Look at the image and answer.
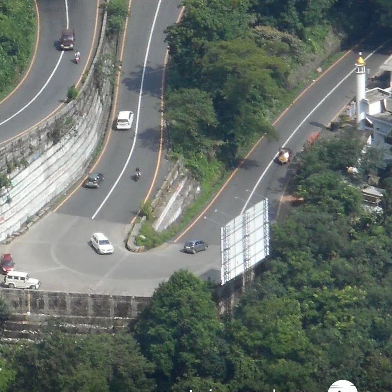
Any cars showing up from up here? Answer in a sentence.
Yes, the picture does show a car.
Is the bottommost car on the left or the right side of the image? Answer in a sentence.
It is on the left.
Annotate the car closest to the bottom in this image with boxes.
[1,265,42,289]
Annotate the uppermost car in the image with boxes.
[59,24,76,48]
